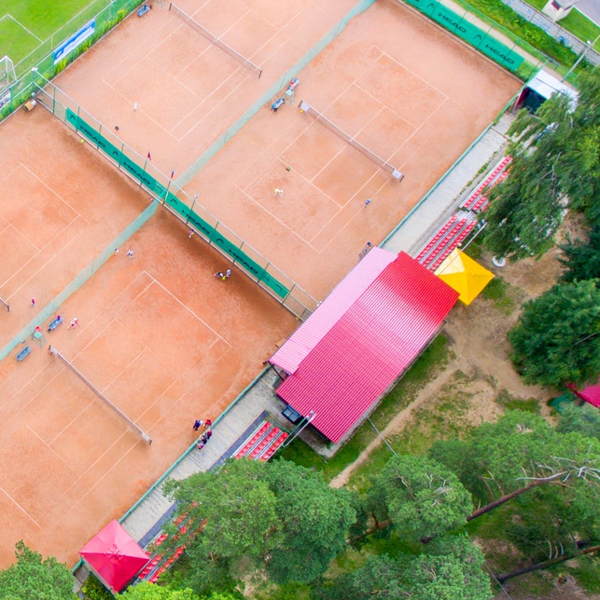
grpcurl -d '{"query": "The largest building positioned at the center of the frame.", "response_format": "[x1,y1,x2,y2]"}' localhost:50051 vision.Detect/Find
[263,246,460,461]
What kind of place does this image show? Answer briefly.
sports ground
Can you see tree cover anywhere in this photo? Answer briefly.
Yes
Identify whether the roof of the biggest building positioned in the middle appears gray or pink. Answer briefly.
pink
